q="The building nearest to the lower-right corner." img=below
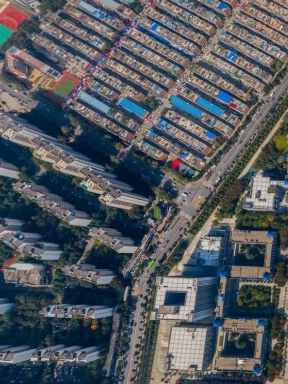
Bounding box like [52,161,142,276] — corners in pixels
[213,317,268,375]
